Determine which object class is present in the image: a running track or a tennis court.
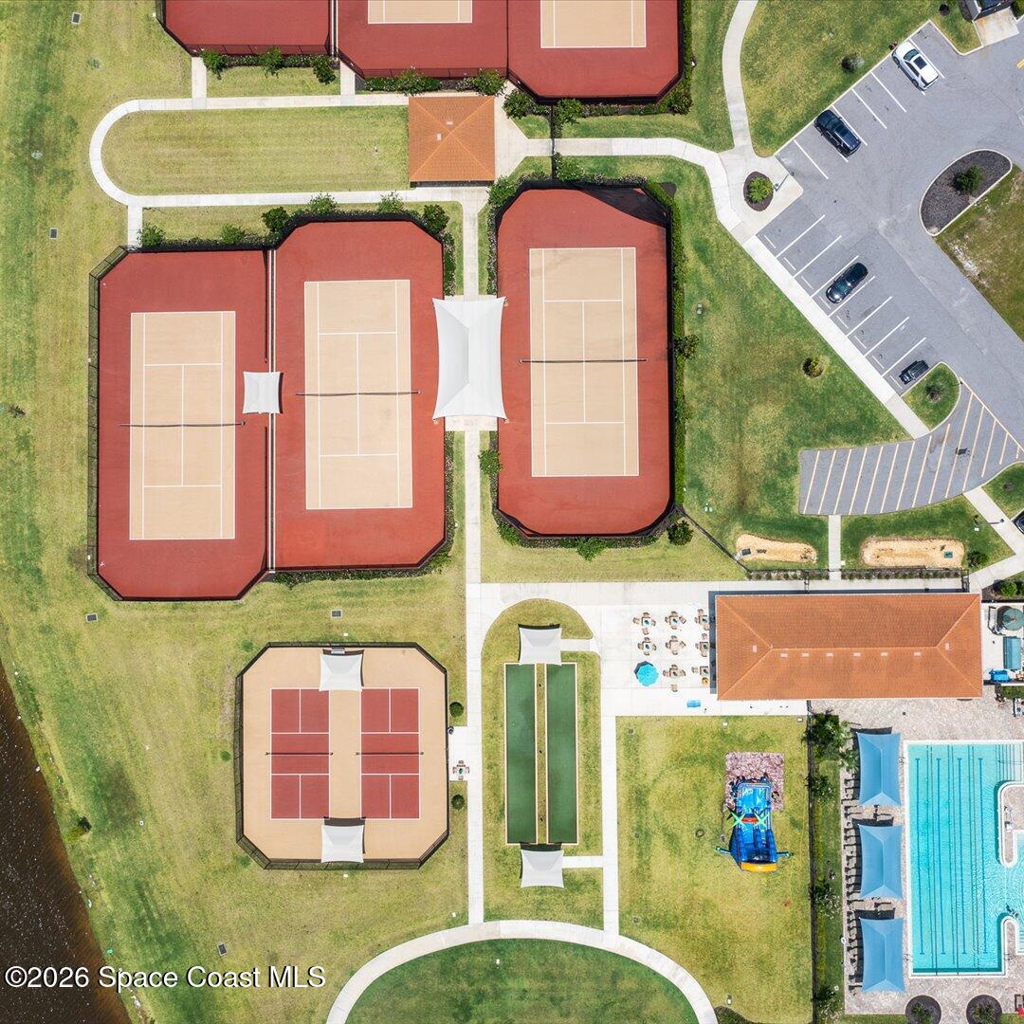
tennis court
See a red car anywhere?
No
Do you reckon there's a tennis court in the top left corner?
Yes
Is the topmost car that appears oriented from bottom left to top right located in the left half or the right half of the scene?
right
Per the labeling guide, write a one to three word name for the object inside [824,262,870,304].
car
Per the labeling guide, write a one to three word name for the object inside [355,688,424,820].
sports court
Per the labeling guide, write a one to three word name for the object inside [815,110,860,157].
car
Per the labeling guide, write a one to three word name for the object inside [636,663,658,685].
umbrella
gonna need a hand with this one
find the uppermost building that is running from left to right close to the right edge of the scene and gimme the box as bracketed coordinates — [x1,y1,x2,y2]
[713,593,984,701]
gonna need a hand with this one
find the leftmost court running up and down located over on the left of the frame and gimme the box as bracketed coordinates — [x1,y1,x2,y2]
[97,250,268,599]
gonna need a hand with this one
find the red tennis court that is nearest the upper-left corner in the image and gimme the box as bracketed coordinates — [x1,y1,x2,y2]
[165,0,329,55]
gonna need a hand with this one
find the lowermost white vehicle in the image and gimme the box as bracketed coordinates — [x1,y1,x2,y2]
[893,42,938,89]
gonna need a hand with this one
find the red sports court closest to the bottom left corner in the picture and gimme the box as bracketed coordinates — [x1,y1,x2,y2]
[264,688,334,820]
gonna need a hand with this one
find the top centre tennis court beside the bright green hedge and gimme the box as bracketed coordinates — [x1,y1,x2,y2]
[509,0,681,94]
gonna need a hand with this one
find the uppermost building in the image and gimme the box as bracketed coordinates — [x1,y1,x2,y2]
[407,95,496,187]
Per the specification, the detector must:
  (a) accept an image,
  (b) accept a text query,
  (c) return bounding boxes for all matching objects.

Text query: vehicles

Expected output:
[824,262,870,304]
[815,110,860,157]
[901,356,934,382]
[893,42,938,89]
[1016,513,1024,532]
